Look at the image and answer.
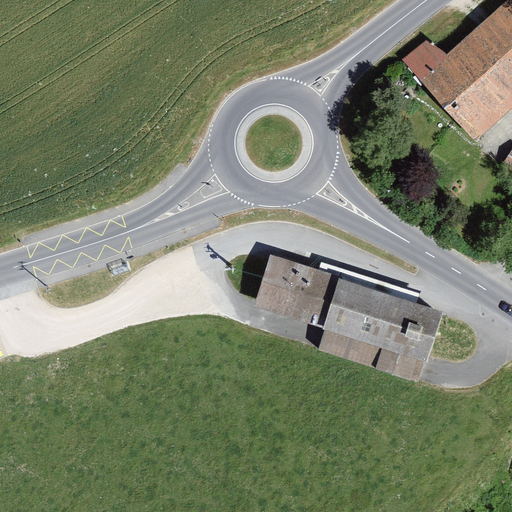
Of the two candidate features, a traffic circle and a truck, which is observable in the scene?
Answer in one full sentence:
The one in the frame is a traffic circle.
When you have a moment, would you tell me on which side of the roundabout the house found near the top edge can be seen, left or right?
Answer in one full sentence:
From the viewer's perspective, the house found near the top edge falls to the right of the roundabout.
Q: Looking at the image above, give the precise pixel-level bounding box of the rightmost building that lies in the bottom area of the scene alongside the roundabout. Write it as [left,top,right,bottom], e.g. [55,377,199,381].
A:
[317,262,445,381]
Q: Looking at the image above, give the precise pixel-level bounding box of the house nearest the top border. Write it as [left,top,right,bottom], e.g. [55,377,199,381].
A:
[403,0,512,140]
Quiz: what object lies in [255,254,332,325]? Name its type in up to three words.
house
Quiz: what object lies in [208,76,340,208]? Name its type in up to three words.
roundabout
